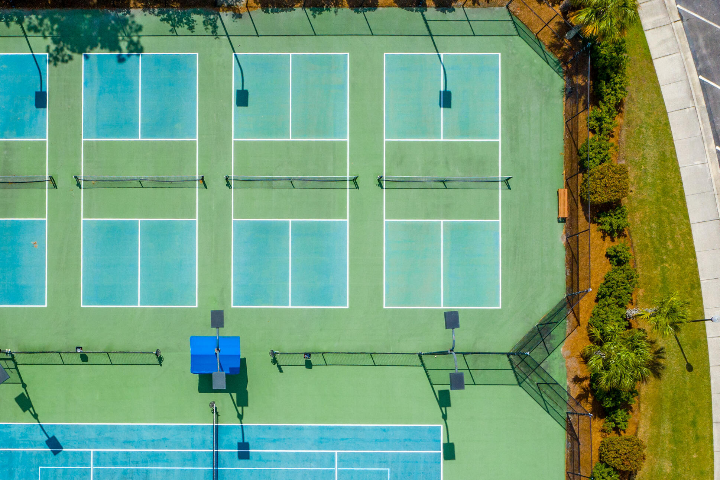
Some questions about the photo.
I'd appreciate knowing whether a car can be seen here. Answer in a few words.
No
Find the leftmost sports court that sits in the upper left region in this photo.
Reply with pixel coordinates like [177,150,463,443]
[0,54,47,139]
